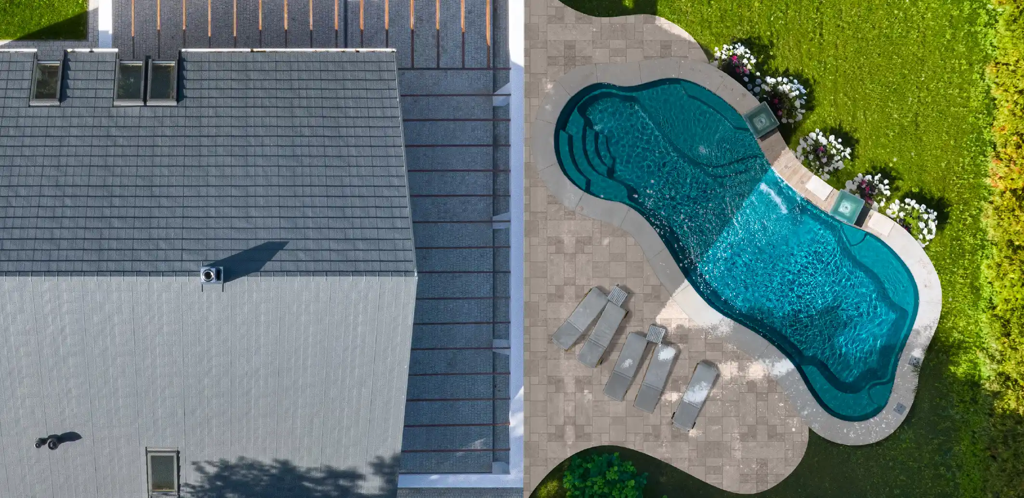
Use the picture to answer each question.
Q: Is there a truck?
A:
No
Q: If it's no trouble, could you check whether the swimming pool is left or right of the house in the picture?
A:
to its right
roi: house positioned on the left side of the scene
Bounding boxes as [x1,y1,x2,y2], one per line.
[0,47,420,498]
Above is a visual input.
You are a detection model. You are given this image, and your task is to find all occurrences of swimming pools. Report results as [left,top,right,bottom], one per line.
[533,57,942,446]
